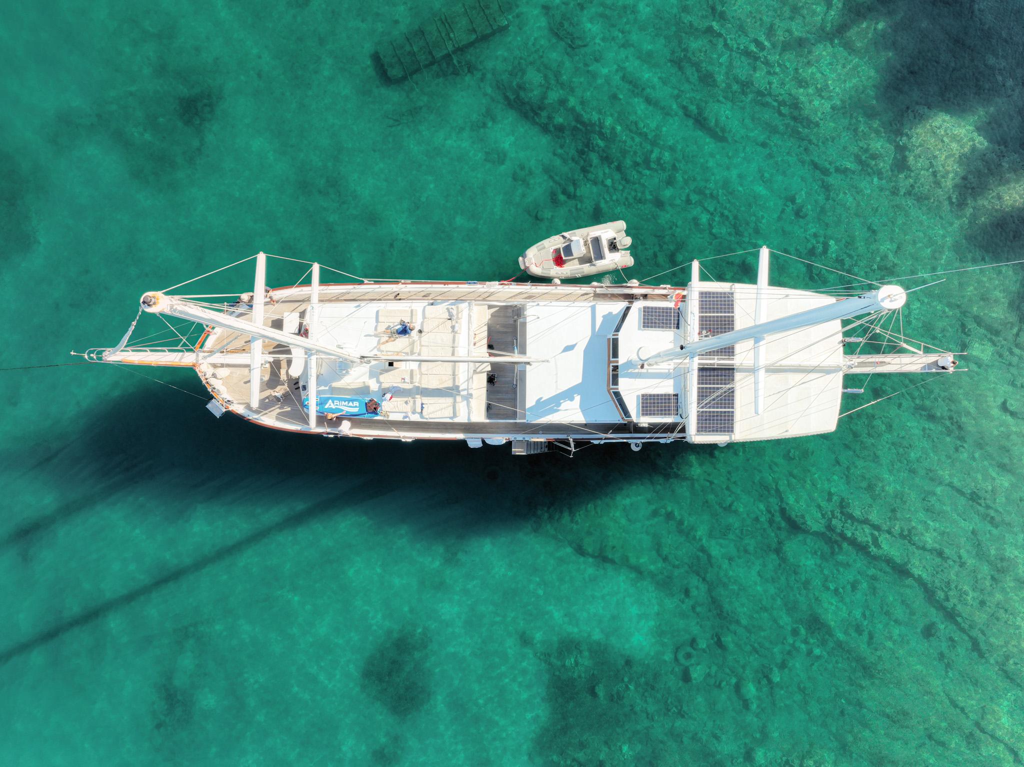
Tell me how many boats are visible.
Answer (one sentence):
In total, 2 boats can be seen.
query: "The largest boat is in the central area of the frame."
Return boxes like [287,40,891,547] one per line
[71,244,968,456]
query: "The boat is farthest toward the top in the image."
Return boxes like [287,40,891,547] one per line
[518,221,632,278]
